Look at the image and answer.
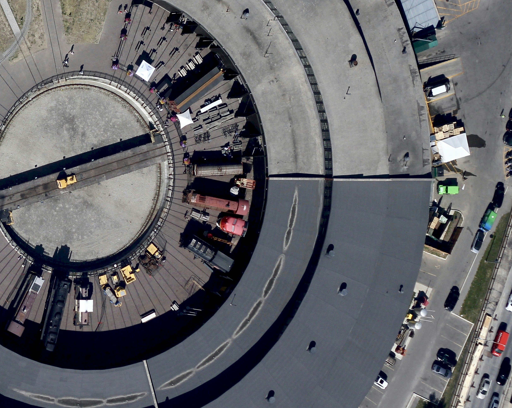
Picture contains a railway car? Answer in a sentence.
Yes, you can see a railway car in this photo.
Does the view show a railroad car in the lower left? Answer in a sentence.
Yes, looking in the lower left, one can make out a railroad car.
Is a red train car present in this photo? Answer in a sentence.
Yes, the picture does show a red train car.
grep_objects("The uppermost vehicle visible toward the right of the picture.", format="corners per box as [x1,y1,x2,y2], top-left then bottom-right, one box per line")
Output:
[423,78,450,99]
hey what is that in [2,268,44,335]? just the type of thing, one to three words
rail car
